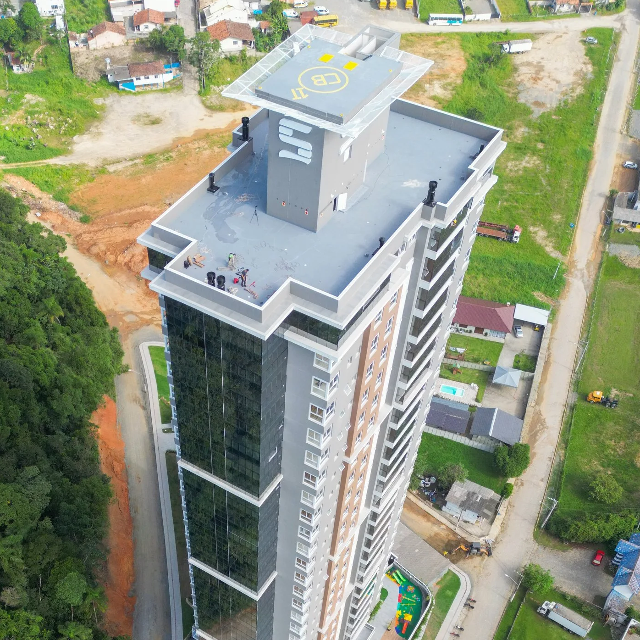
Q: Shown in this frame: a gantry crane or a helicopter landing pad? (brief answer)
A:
helicopter landing pad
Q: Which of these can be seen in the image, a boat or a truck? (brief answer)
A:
truck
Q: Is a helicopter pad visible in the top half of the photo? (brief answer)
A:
Yes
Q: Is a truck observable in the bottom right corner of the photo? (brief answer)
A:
Yes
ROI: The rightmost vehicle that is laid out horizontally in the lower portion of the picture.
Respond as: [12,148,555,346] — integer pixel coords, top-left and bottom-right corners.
[585,390,623,409]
